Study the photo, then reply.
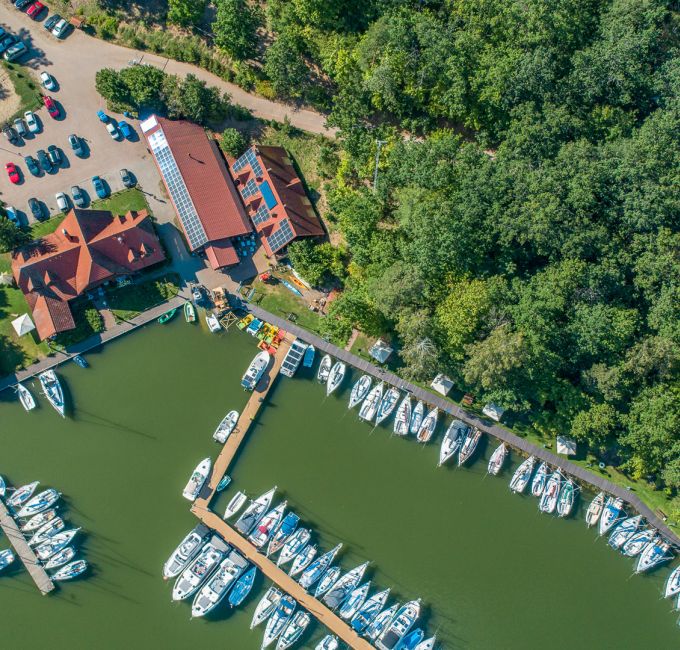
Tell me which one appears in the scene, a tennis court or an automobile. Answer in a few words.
automobile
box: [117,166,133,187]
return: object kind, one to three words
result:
car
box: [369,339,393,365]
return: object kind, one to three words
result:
tent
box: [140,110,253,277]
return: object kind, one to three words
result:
building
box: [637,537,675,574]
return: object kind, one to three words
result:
boat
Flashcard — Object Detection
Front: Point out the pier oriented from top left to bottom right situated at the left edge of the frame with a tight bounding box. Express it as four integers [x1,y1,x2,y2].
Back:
[0,499,58,596]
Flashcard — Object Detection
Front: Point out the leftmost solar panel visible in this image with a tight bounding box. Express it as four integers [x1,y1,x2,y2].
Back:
[148,129,207,248]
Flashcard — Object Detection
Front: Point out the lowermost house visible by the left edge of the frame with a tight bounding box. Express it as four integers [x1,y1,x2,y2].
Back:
[11,207,167,341]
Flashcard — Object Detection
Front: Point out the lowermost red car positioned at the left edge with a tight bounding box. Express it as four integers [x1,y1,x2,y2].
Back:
[3,161,19,183]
